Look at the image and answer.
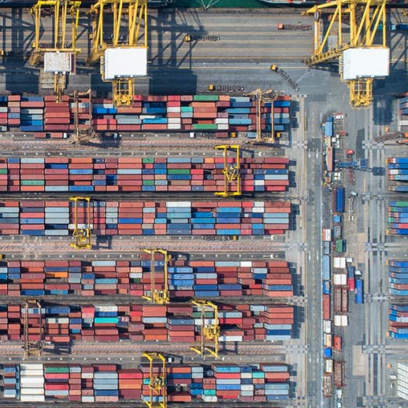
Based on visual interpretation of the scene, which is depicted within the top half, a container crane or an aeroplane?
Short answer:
container crane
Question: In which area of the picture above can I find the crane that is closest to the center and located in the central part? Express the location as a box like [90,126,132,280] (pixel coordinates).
[211,144,242,197]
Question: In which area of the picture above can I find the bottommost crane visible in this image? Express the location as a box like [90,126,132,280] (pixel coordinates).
[139,352,167,408]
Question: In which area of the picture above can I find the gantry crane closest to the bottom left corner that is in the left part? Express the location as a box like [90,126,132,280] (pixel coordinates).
[21,297,45,357]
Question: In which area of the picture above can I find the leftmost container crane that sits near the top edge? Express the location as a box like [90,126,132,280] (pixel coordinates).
[29,0,83,100]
